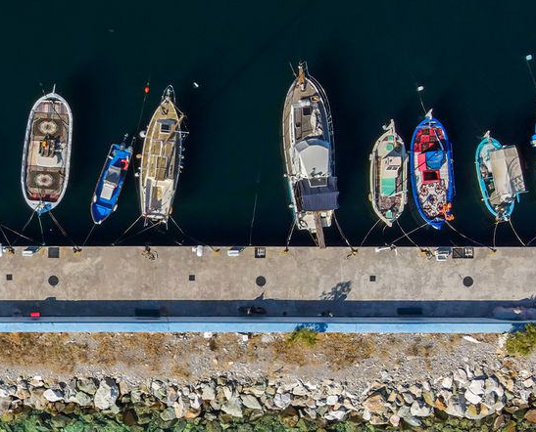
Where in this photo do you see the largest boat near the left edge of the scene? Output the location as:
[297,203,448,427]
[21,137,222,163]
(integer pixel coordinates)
[1,85,75,252]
